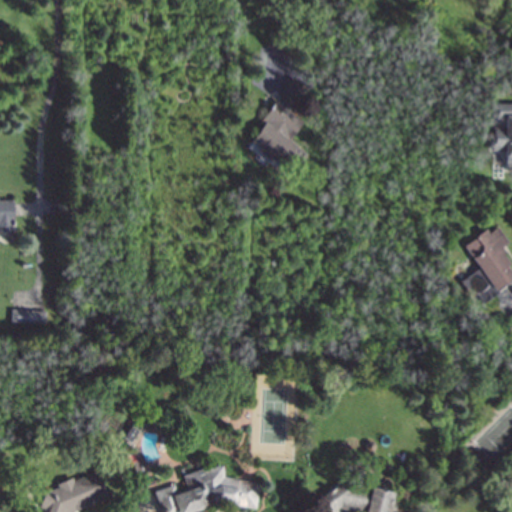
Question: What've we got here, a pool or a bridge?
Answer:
pool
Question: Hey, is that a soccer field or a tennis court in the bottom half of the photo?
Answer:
tennis court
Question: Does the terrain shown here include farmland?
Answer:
No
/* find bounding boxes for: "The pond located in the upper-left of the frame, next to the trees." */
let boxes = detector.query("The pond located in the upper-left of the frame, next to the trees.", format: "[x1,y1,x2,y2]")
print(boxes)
[88,59,134,152]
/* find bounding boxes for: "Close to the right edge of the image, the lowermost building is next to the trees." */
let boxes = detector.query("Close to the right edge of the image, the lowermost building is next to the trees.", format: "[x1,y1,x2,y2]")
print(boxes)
[466,227,512,298]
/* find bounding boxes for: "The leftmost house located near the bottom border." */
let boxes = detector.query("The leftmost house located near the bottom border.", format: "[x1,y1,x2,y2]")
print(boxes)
[44,474,106,512]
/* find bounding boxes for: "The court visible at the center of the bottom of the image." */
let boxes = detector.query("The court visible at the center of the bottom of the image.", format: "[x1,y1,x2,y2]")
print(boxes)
[252,374,295,462]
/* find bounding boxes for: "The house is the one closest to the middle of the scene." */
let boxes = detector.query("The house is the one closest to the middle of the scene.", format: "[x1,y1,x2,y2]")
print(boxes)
[252,102,312,172]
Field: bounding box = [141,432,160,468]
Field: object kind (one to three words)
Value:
swimming pool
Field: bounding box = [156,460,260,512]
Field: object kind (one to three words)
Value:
house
